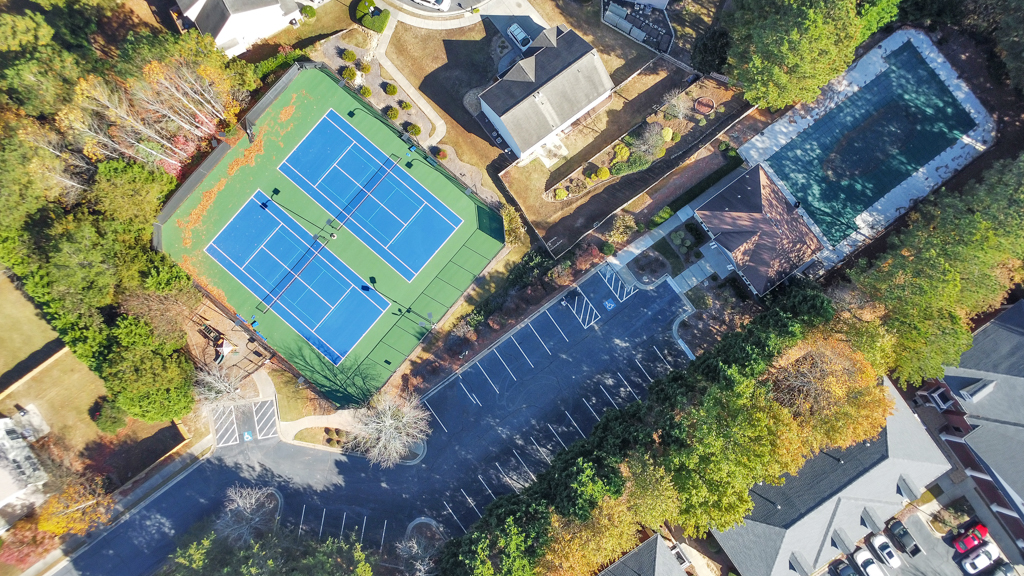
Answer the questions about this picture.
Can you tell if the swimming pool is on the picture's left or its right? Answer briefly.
right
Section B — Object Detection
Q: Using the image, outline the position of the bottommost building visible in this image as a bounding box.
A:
[599,533,700,576]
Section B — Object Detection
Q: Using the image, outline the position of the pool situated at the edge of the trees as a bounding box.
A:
[739,28,996,276]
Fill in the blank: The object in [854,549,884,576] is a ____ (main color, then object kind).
white car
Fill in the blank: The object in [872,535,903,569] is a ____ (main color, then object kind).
white car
